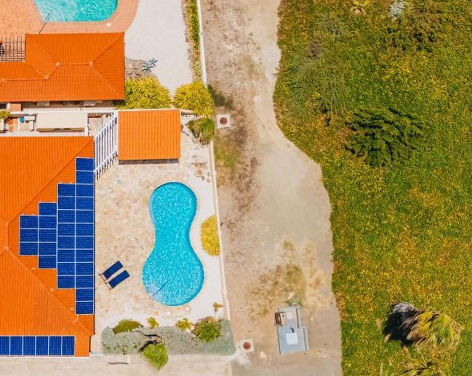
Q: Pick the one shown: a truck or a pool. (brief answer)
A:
pool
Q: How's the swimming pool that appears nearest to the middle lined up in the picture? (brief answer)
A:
from top to bottom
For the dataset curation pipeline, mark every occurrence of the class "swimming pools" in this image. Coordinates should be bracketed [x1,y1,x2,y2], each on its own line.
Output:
[143,182,208,306]
[29,0,122,28]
